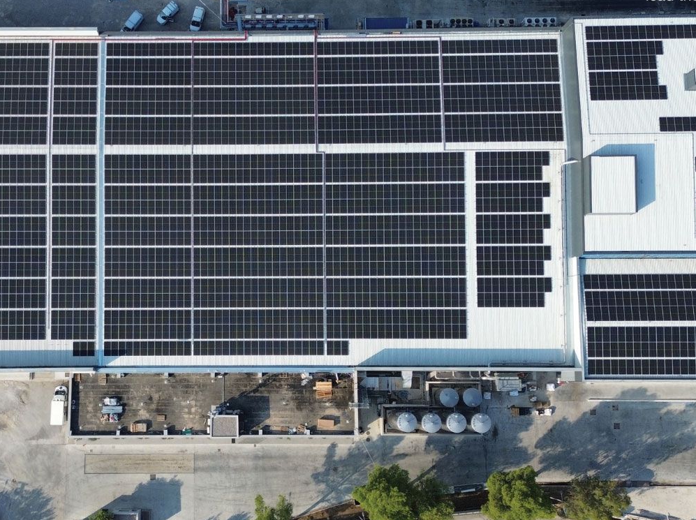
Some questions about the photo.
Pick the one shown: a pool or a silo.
silo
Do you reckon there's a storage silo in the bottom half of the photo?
Yes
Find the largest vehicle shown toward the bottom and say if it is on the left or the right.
left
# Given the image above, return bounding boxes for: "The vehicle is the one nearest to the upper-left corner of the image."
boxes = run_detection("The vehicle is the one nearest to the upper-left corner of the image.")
[120,8,142,32]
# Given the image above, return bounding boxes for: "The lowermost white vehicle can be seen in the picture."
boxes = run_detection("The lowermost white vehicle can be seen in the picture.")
[49,385,69,426]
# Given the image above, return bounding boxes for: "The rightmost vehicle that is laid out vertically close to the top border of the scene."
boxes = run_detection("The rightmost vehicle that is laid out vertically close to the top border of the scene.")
[190,4,205,32]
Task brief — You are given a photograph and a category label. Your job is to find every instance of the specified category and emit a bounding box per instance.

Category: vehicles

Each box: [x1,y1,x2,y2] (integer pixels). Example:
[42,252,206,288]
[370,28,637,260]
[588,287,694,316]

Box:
[120,8,142,32]
[157,0,178,27]
[190,4,205,32]
[49,385,69,426]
